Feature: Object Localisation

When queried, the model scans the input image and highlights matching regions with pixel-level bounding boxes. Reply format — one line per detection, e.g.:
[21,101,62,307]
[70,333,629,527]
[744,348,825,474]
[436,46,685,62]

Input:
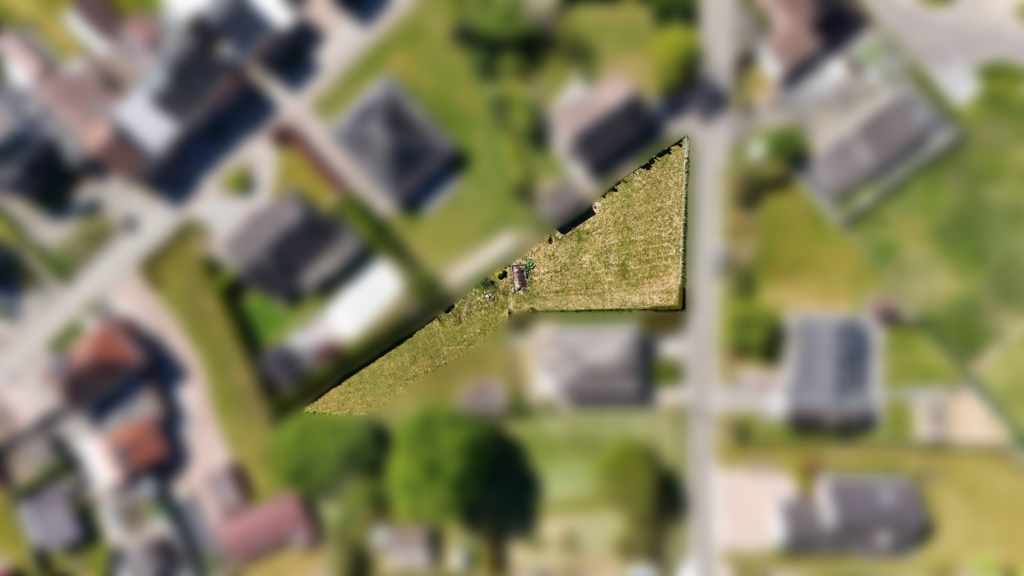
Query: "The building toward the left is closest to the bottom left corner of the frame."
[18,482,92,553]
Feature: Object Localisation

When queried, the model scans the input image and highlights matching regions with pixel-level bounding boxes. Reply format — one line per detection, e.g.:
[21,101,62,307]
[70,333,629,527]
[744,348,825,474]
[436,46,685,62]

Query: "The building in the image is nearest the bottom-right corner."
[823,471,931,552]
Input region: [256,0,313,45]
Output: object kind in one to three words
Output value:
building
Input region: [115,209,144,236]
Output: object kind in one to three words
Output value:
car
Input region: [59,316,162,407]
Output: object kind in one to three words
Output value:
house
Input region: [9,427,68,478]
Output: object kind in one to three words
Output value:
shed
